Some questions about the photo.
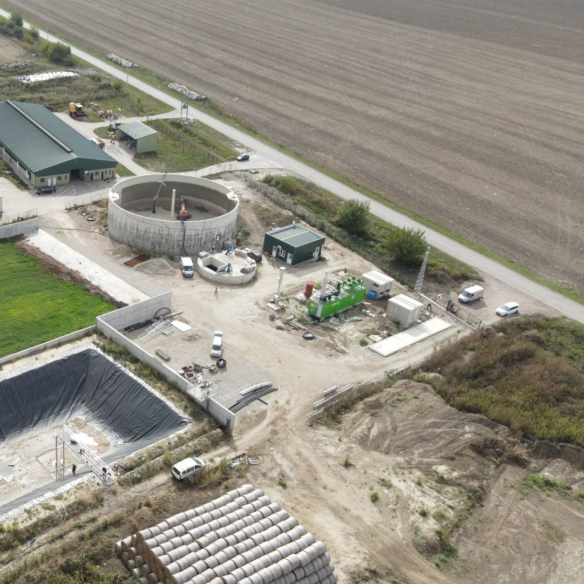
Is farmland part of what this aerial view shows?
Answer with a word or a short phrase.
Yes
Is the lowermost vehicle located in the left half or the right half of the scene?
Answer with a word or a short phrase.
left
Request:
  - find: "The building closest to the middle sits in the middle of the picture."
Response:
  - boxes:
[262,223,325,264]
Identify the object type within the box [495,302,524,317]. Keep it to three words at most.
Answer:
car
